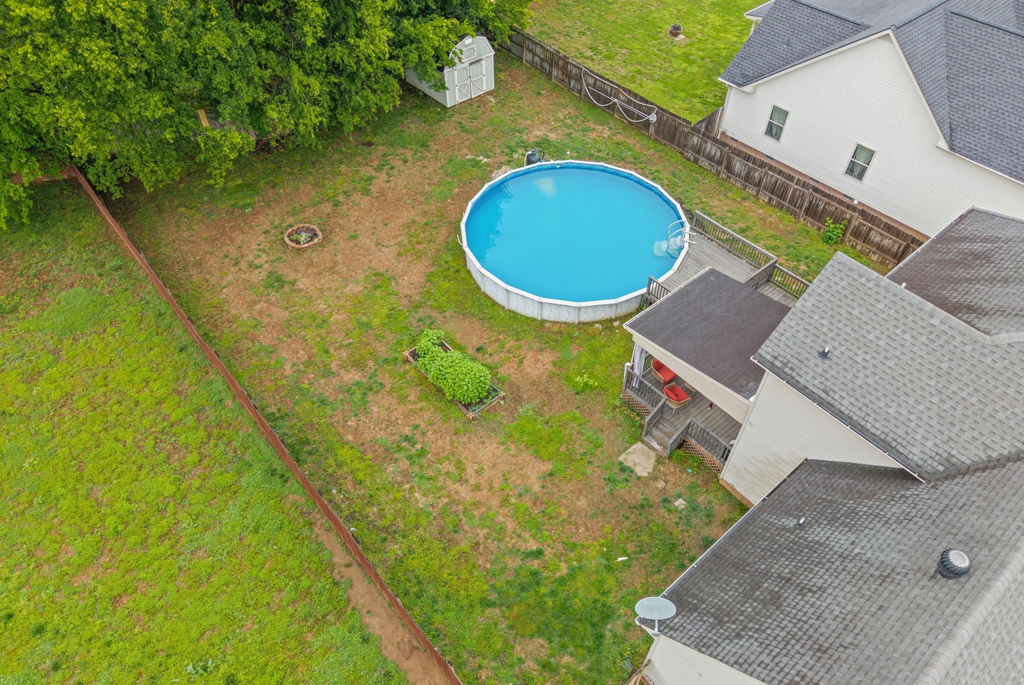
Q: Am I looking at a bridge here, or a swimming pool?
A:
swimming pool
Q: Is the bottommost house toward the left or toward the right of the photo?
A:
right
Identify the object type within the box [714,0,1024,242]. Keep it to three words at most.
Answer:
house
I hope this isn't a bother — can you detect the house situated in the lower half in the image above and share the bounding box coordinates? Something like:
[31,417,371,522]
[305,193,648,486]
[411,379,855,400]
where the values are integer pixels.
[628,206,1024,685]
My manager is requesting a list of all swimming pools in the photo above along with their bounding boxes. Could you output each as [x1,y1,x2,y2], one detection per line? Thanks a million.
[460,160,691,323]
